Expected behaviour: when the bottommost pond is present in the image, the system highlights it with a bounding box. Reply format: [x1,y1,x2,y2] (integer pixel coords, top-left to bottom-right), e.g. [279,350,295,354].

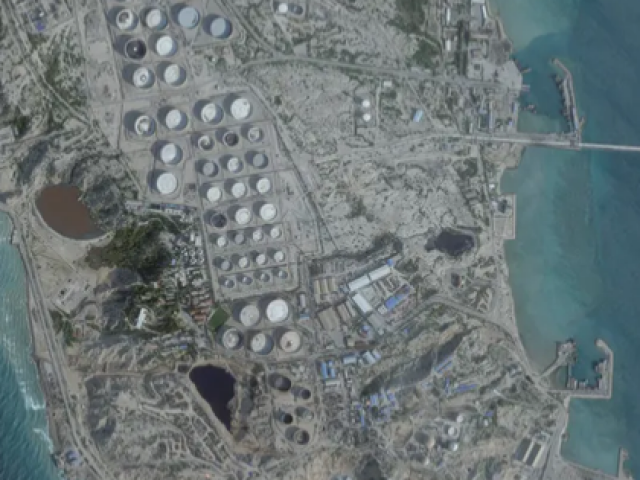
[189,364,235,431]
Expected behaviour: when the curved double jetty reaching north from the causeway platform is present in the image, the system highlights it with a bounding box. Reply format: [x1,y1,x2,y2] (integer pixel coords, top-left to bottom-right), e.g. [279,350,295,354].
[552,57,584,133]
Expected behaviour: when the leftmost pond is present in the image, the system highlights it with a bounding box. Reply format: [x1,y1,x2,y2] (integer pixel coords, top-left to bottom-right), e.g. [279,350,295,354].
[36,184,104,240]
